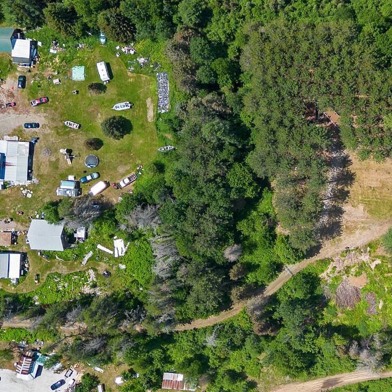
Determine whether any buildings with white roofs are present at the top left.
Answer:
Yes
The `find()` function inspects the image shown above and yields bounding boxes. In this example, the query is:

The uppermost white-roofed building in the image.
[11,39,39,68]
